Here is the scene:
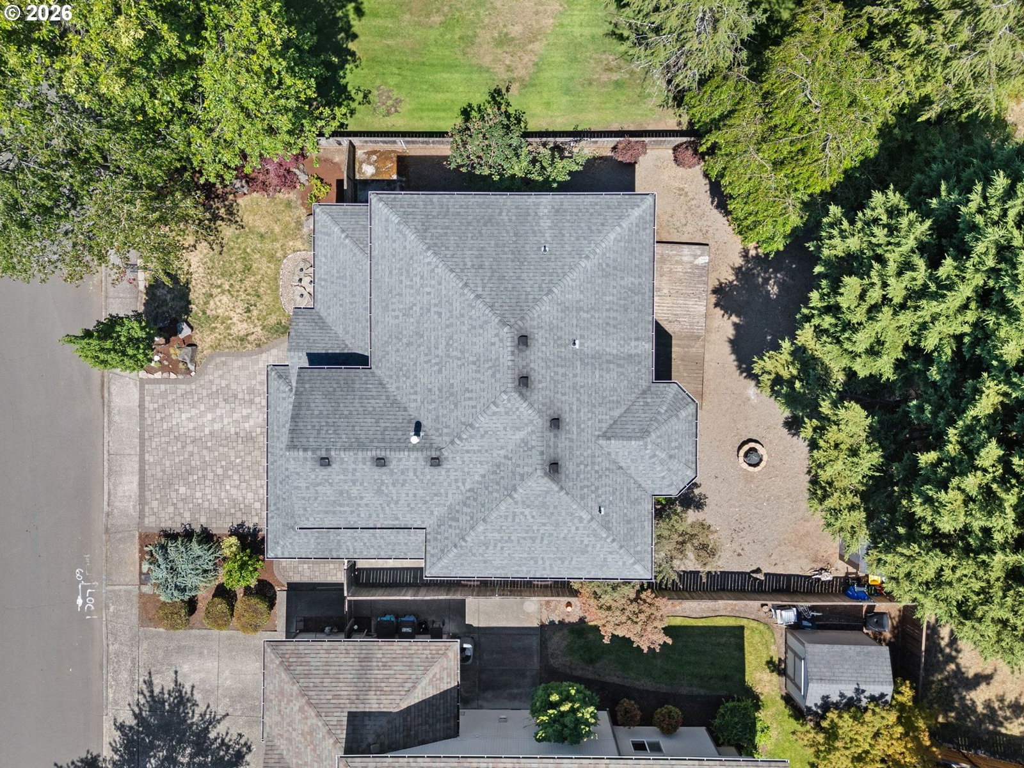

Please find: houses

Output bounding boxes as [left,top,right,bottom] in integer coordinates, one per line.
[267,192,697,580]
[263,626,786,768]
